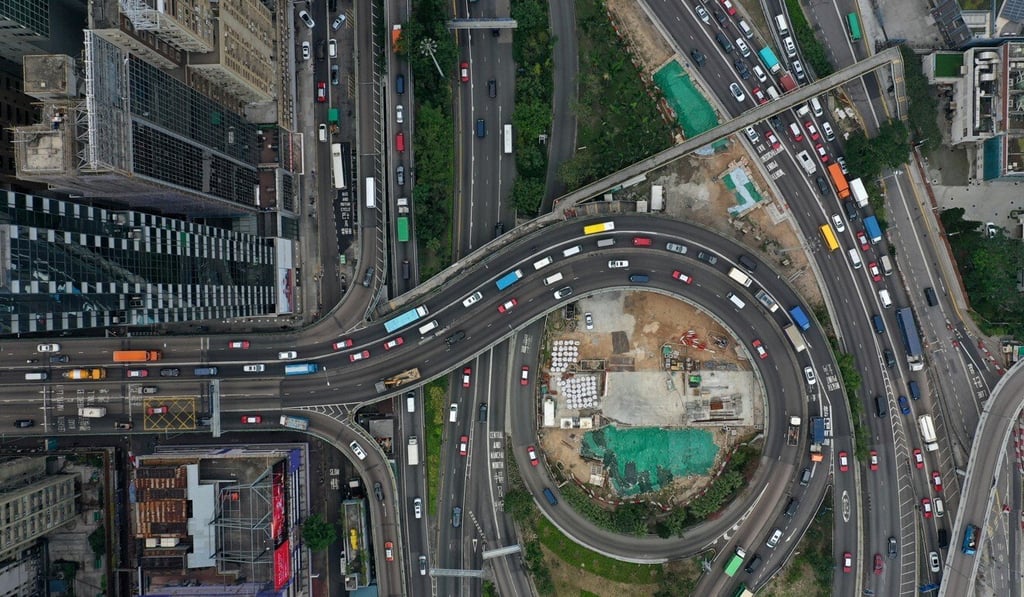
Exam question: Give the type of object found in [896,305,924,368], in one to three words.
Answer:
truck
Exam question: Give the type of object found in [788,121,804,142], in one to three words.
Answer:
vehicle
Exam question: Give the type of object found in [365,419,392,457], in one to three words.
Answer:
shed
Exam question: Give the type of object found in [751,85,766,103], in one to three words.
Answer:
car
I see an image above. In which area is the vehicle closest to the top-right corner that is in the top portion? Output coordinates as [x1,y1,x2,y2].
[845,11,864,42]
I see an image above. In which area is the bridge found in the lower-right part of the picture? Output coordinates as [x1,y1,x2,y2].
[938,362,1024,597]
